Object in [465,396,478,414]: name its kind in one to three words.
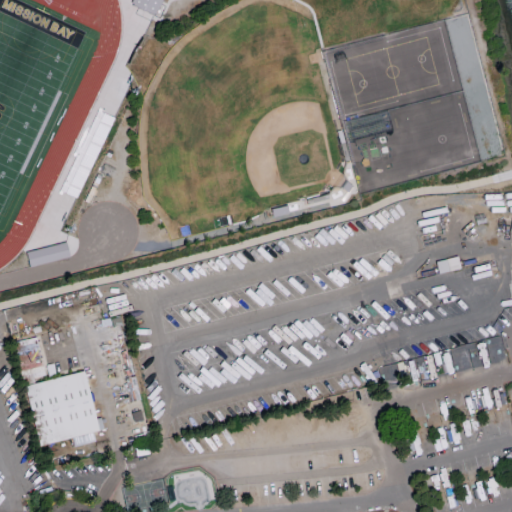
vehicle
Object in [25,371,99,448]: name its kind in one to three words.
building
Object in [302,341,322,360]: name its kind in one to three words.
camper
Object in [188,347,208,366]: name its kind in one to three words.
camper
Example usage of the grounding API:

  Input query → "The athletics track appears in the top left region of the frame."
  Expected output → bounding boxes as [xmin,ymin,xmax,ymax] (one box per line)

[0,0,121,270]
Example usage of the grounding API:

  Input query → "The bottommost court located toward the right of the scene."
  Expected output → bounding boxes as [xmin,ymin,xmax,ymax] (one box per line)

[346,90,479,192]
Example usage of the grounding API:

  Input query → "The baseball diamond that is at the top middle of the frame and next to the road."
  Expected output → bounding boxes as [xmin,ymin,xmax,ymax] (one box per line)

[140,0,346,240]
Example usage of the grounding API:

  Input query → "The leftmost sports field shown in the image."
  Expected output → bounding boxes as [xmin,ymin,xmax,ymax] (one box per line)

[0,0,100,242]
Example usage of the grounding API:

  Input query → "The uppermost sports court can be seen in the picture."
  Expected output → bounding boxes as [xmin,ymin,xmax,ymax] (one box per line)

[324,20,463,120]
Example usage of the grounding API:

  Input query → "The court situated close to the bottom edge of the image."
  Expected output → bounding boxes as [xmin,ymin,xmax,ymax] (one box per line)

[122,480,169,512]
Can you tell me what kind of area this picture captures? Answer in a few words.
sports ground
